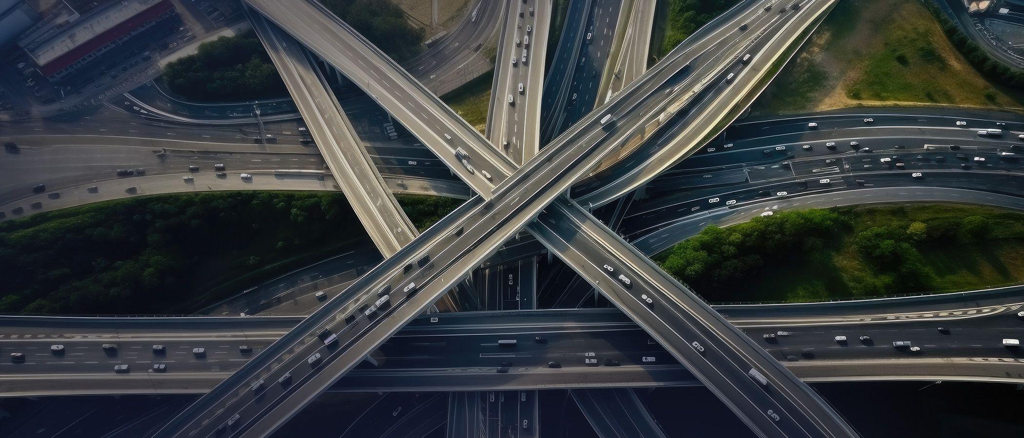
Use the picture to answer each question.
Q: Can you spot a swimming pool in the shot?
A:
No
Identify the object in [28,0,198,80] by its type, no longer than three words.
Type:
building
